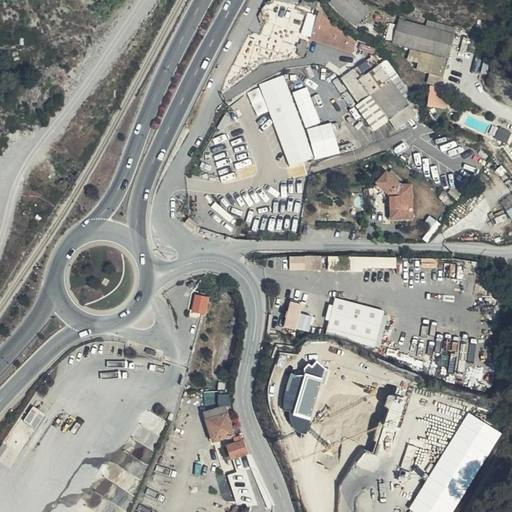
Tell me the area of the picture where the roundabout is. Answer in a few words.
left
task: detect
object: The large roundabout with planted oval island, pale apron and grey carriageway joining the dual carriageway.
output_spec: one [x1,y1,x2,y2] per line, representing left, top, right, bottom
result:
[48,218,156,332]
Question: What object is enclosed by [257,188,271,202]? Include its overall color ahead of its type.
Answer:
white camper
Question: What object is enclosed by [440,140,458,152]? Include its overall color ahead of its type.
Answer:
white vehicle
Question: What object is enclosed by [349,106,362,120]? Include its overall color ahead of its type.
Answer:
white vehicle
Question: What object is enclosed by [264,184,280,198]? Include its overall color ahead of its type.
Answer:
white camper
